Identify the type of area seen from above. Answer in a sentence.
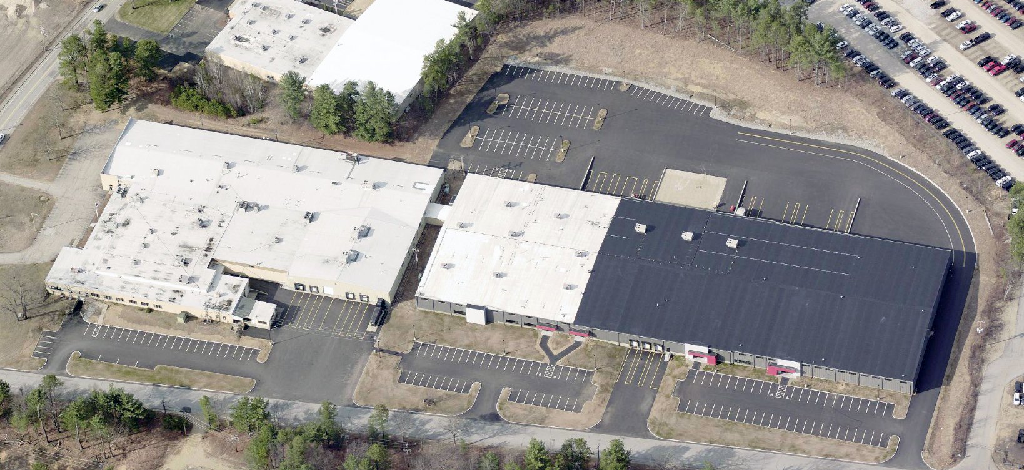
This looks like an industrial area.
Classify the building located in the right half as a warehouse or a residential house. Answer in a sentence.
Looking closely, the building located in the right half is a warehouse.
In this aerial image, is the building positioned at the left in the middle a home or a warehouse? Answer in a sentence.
In the photo, the building positioned at the left in the middle shows up as a warehouse.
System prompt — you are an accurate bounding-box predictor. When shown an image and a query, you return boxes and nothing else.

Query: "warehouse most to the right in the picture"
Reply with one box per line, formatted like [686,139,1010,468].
[415,172,951,395]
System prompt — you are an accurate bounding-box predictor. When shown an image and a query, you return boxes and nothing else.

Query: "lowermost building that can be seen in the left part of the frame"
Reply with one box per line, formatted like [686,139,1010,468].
[45,116,452,337]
